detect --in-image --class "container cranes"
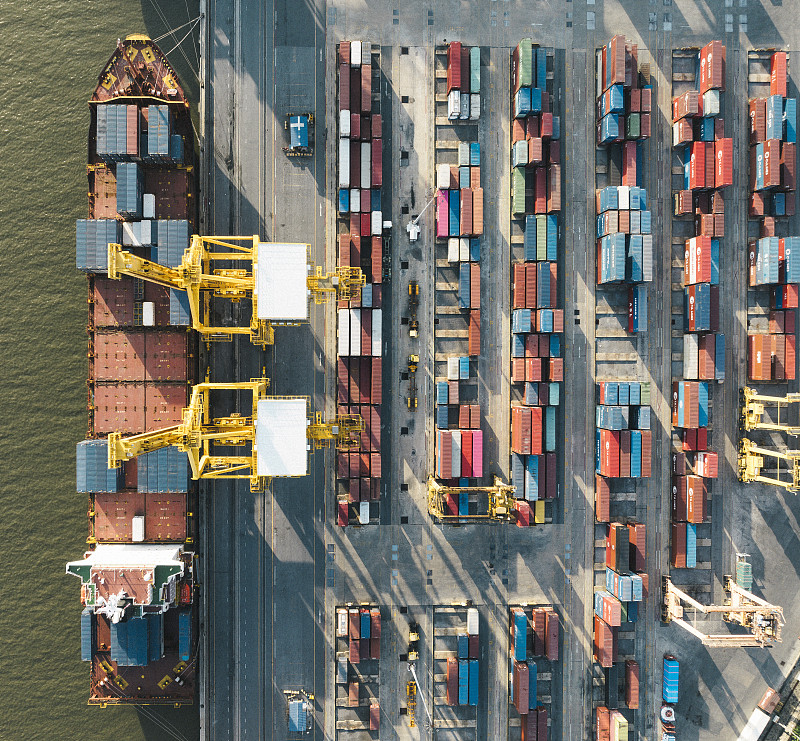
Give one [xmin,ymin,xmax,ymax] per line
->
[427,471,524,521]
[664,586,784,647]
[738,389,800,433]
[106,234,370,353]
[738,445,800,493]
[106,367,370,496]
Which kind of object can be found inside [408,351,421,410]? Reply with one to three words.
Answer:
vehicle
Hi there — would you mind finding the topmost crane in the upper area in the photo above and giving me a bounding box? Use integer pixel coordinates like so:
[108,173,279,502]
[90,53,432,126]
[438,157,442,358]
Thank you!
[403,193,437,249]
